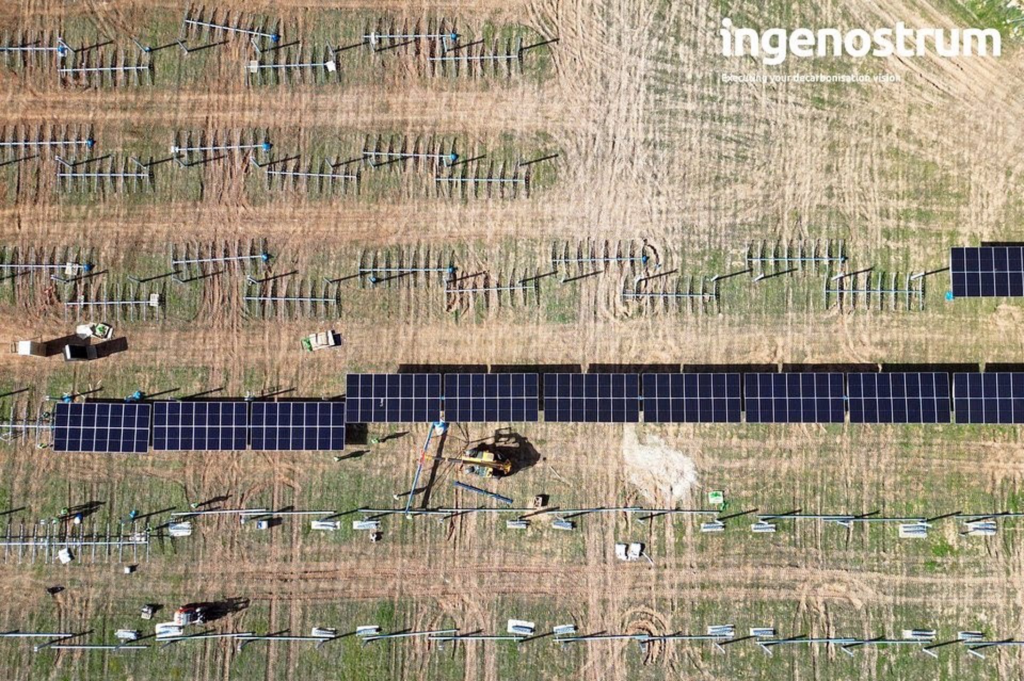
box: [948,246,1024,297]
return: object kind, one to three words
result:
solar array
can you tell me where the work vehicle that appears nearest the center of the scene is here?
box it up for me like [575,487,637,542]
[419,447,512,479]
